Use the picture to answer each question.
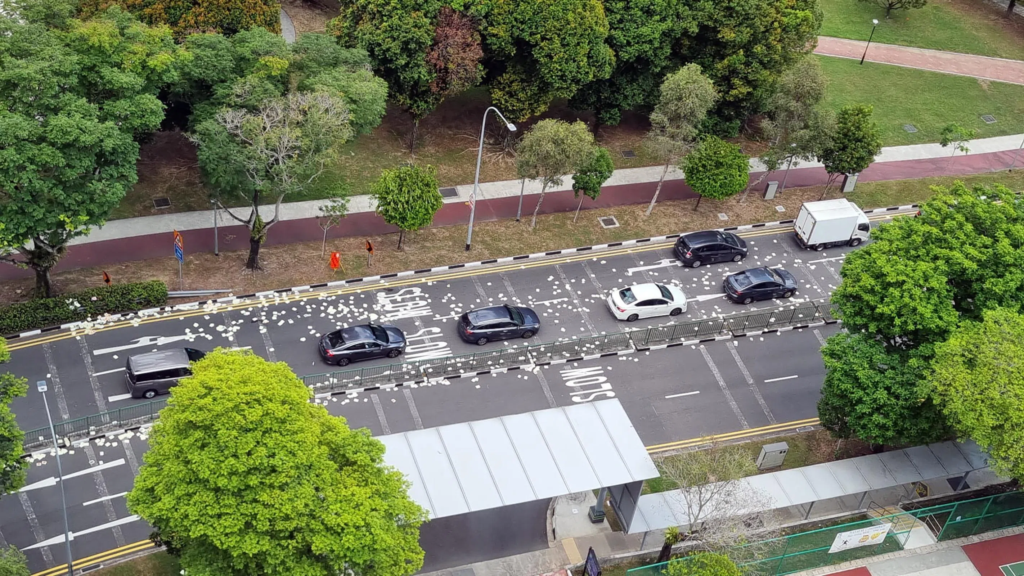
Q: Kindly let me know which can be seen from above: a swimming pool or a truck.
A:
truck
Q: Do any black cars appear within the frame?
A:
Yes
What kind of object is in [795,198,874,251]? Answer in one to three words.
truck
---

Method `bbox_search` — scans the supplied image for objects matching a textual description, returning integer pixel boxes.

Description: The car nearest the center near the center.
[457,303,546,347]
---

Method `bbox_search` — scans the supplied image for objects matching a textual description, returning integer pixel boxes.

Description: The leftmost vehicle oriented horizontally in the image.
[320,322,410,368]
